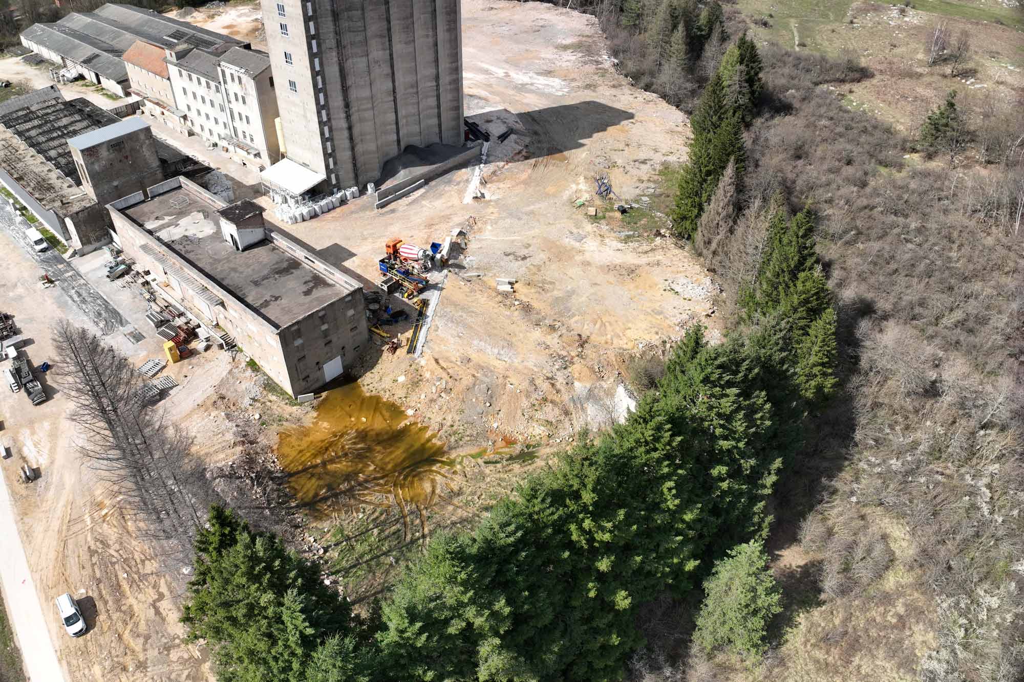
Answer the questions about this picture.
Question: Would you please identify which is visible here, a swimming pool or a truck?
truck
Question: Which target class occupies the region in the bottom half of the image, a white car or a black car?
white car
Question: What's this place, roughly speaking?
industrial area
